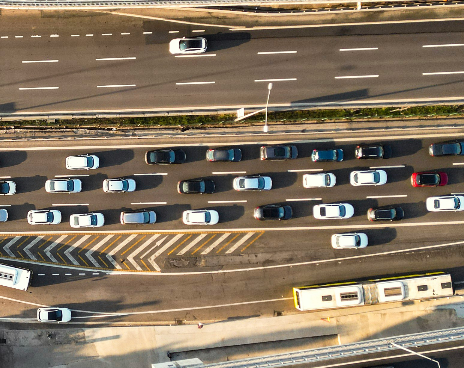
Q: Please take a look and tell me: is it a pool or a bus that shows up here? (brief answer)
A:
bus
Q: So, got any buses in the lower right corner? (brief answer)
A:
Yes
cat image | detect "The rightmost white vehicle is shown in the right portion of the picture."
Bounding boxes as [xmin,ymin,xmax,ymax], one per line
[425,195,464,212]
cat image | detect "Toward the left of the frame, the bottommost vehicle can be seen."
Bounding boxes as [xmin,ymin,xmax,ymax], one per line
[35,305,72,324]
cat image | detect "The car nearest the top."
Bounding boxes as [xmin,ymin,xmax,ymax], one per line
[170,35,207,54]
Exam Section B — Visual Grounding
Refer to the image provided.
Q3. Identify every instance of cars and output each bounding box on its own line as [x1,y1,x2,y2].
[65,153,102,171]
[0,179,17,197]
[425,195,464,212]
[254,203,292,221]
[347,169,387,186]
[146,149,183,165]
[328,231,368,250]
[120,209,157,226]
[409,170,449,188]
[170,35,207,54]
[68,211,105,229]
[35,305,72,324]
[177,177,216,195]
[314,202,352,219]
[100,176,138,195]
[299,171,339,189]
[27,209,61,225]
[354,143,391,160]
[309,146,344,164]
[233,173,273,191]
[182,208,218,226]
[207,146,241,164]
[364,205,405,223]
[259,143,298,162]
[46,177,81,195]
[0,209,9,223]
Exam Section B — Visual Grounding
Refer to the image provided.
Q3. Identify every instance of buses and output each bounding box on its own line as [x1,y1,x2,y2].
[289,274,458,313]
[0,263,35,293]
